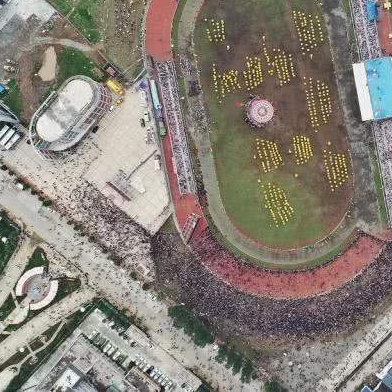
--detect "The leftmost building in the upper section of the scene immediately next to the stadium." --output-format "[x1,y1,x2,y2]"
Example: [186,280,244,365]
[30,73,114,155]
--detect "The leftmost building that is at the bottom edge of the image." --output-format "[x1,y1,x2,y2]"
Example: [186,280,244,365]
[25,328,132,392]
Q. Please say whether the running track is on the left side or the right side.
right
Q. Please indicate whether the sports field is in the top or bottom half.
top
